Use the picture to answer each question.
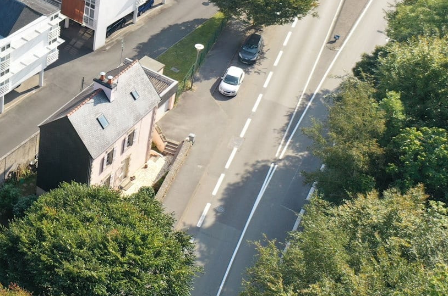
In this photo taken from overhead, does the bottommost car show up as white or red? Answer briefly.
white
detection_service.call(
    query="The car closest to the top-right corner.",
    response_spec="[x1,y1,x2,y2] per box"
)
[241,30,267,61]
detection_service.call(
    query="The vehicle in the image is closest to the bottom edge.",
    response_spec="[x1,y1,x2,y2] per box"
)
[219,62,249,95]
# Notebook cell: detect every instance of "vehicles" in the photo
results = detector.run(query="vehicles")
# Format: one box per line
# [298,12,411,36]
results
[104,19,124,39]
[241,30,267,61]
[136,0,162,15]
[219,62,249,95]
